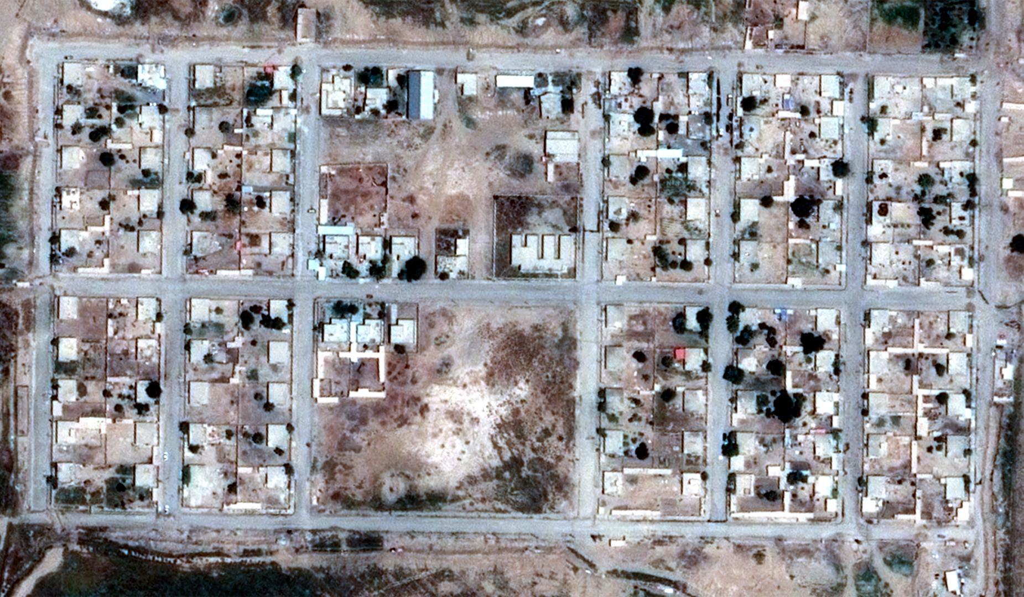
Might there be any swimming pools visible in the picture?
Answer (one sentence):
No, I can see no swimming pool in this picture.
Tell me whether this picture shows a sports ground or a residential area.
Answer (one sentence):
This image shows a residential area.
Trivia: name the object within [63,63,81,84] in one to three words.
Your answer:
house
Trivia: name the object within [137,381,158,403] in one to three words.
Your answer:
house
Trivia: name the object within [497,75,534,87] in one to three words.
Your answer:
shed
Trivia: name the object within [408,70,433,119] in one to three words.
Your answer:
building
